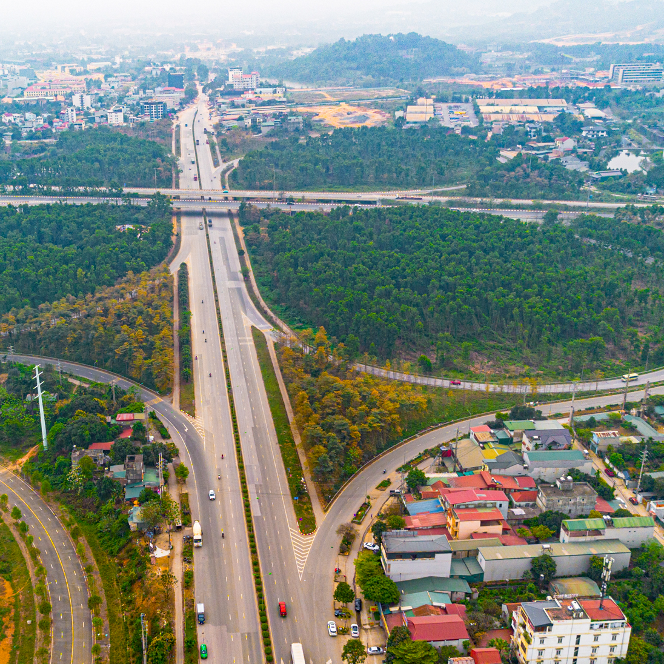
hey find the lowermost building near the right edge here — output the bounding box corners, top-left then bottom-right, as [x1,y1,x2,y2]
[510,592,632,664]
